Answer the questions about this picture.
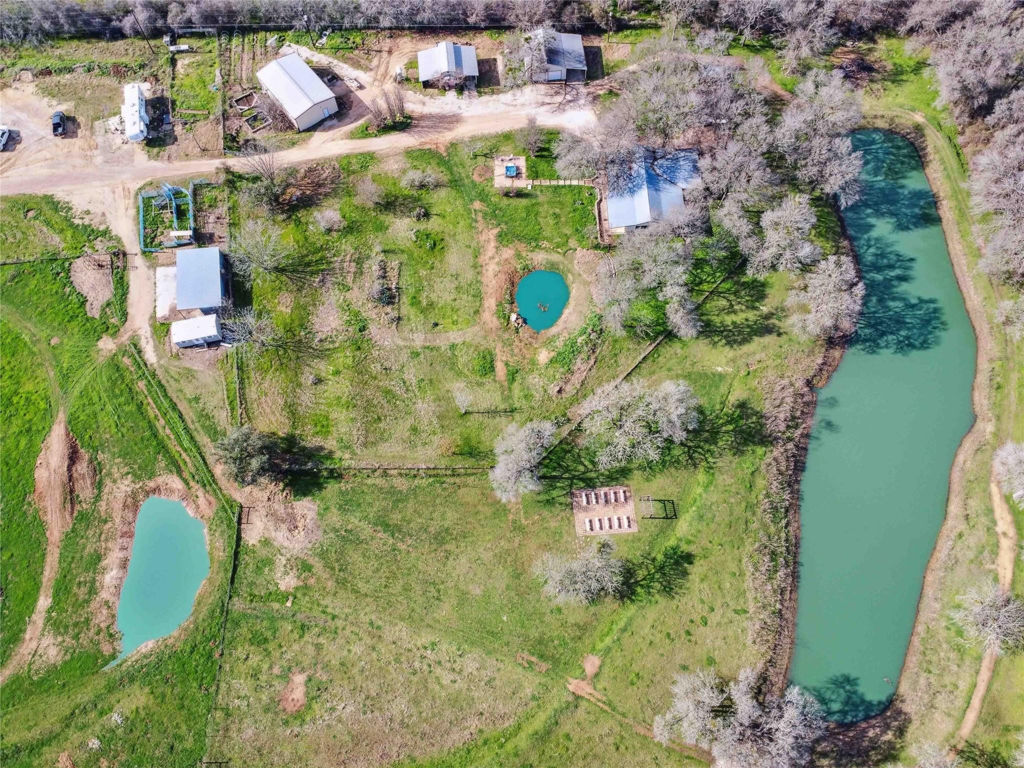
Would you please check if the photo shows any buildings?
Yes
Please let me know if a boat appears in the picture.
No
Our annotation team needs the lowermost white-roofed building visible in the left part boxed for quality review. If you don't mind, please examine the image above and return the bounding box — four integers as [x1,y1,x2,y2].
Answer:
[172,316,225,357]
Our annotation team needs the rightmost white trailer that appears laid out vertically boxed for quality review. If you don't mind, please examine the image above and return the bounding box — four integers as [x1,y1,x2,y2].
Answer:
[122,84,152,146]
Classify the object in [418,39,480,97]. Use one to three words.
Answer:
house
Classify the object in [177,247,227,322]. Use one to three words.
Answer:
barn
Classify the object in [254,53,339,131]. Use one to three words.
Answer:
building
